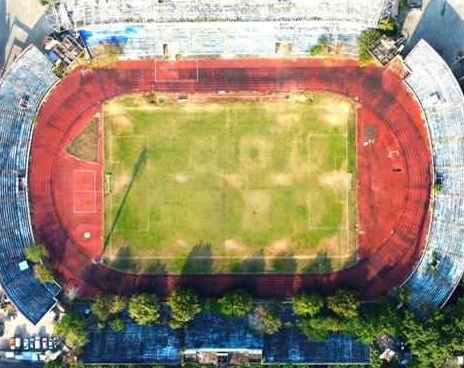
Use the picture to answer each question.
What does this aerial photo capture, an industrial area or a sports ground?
sports ground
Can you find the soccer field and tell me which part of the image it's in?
center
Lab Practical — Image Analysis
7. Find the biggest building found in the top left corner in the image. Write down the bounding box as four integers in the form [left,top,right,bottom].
[54,34,89,64]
